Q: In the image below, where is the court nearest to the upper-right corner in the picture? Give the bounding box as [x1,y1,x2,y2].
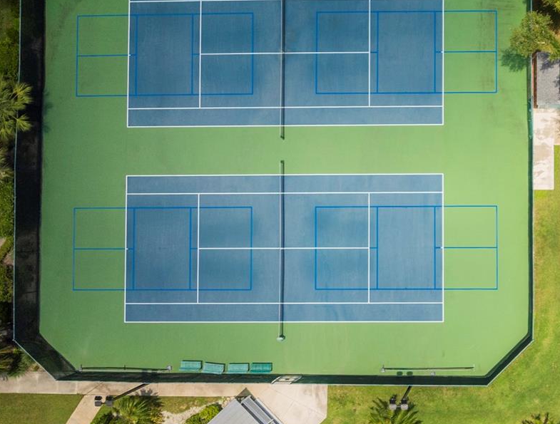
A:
[317,10,498,94]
